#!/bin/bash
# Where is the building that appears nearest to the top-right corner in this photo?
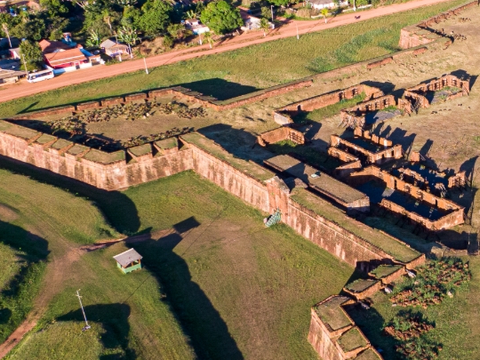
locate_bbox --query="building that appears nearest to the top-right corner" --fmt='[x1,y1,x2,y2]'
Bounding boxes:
[404,75,476,118]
